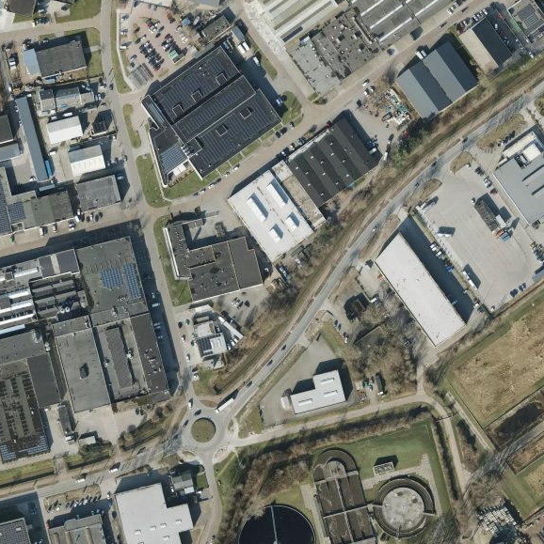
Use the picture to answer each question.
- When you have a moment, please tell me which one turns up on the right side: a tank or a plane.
tank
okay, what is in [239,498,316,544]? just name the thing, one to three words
storage tank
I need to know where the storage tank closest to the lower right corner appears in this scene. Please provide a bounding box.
[372,478,435,538]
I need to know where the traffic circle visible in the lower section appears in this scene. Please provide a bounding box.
[181,408,226,452]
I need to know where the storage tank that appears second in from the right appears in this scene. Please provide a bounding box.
[313,449,376,544]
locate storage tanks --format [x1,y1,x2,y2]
[239,498,316,544]
[313,449,376,544]
[372,478,435,538]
